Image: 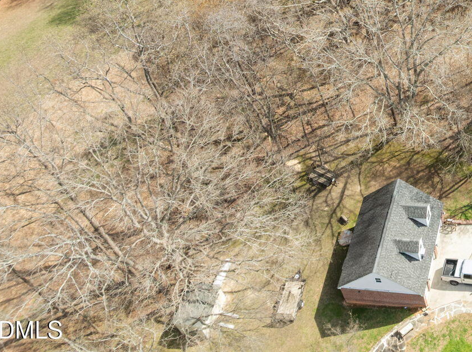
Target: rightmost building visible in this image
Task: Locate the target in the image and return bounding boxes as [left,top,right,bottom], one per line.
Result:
[337,179,445,307]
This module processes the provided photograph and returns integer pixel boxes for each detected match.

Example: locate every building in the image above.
[167,282,226,342]
[337,179,445,307]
